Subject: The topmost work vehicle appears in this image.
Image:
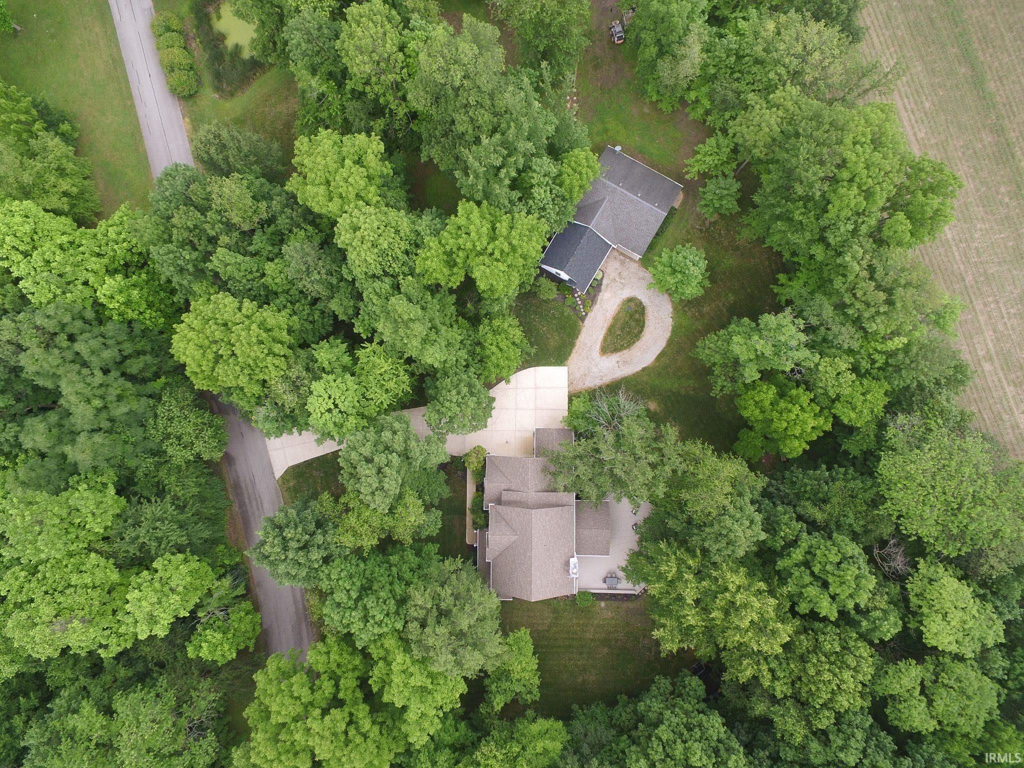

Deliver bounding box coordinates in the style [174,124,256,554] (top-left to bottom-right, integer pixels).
[609,22,626,46]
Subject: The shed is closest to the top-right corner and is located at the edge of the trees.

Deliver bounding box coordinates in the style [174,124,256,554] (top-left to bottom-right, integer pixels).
[541,144,684,294]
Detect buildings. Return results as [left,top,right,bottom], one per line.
[476,427,612,602]
[541,144,684,294]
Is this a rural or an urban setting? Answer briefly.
rural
